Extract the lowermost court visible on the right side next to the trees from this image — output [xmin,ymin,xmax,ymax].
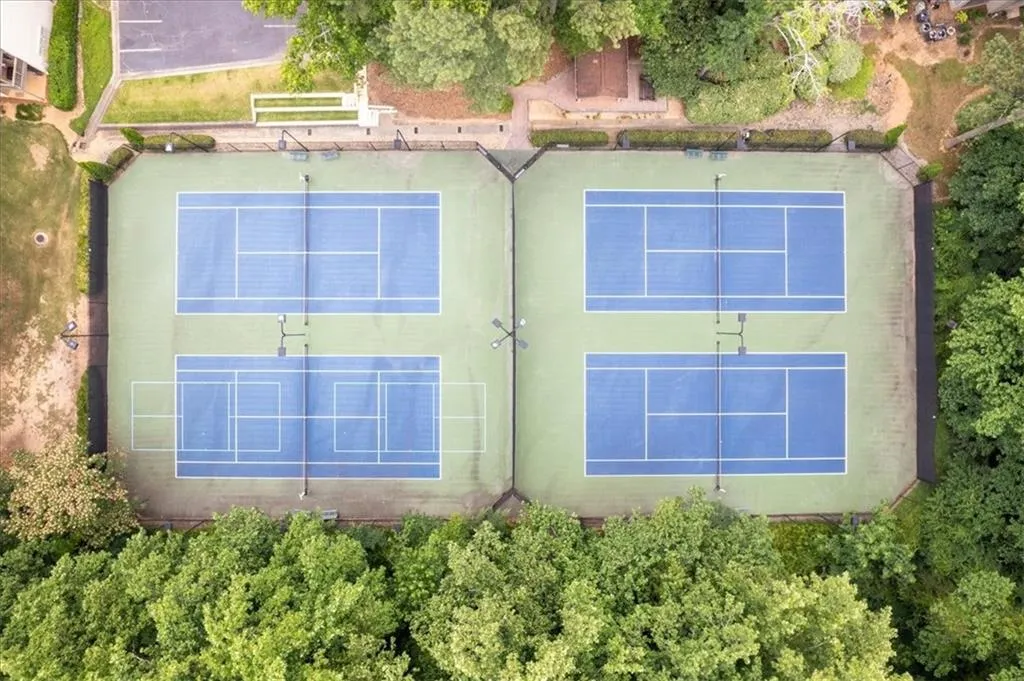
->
[514,335,917,520]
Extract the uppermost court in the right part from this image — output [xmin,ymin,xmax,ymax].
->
[514,151,916,335]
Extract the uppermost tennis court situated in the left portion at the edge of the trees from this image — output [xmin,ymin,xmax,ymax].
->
[108,151,513,335]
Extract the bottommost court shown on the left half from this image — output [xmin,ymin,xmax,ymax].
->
[108,335,513,519]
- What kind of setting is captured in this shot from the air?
sports ground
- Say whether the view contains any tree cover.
Yes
